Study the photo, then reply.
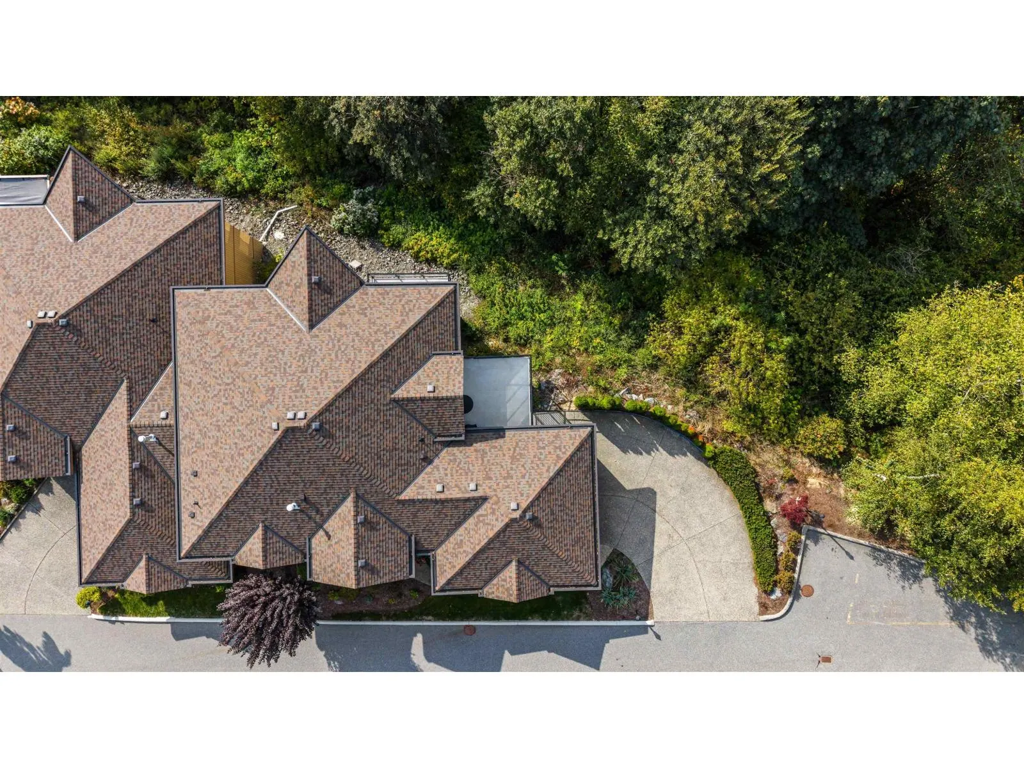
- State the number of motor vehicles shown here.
none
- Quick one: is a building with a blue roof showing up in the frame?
No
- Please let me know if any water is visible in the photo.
No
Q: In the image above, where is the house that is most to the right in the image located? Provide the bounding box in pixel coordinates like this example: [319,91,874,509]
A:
[169,226,604,602]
